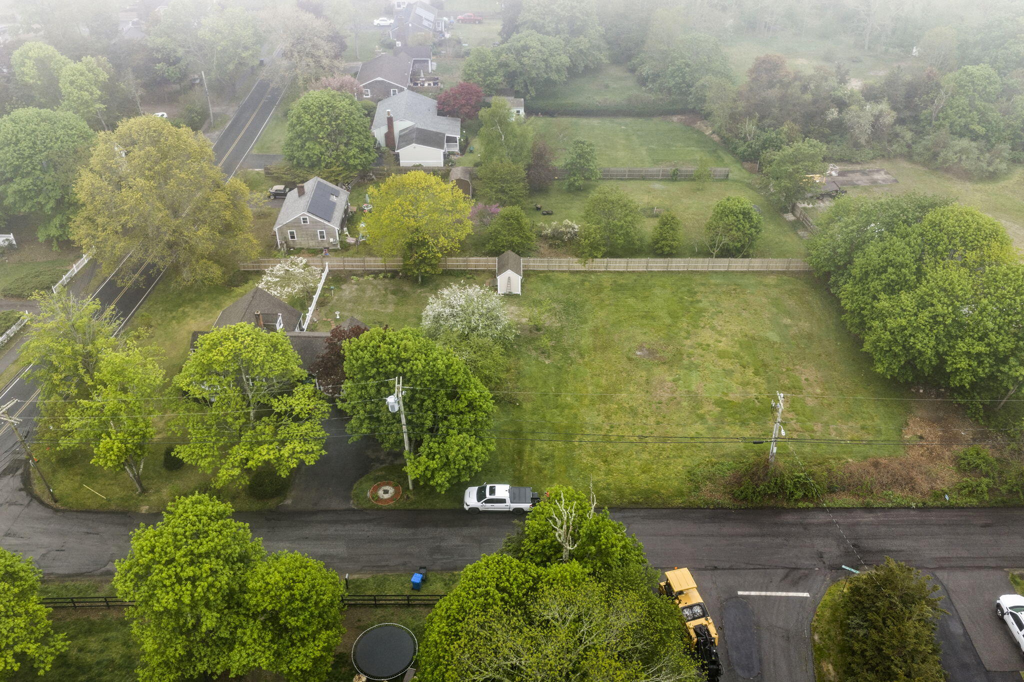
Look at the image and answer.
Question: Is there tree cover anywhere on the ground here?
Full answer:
Yes, there's tree cover in this view.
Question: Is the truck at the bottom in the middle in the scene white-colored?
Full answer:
Yes, white is the color of the truck at the bottom in the middle.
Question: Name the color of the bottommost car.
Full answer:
The bottommost car looks white in the image.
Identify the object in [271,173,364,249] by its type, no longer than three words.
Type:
house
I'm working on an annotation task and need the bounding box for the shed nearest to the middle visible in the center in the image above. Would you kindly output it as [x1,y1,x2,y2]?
[496,249,523,294]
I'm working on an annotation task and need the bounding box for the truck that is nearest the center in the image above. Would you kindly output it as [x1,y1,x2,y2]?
[463,482,540,515]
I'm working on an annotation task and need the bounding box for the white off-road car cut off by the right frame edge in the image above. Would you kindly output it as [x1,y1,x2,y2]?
[992,597,1024,642]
